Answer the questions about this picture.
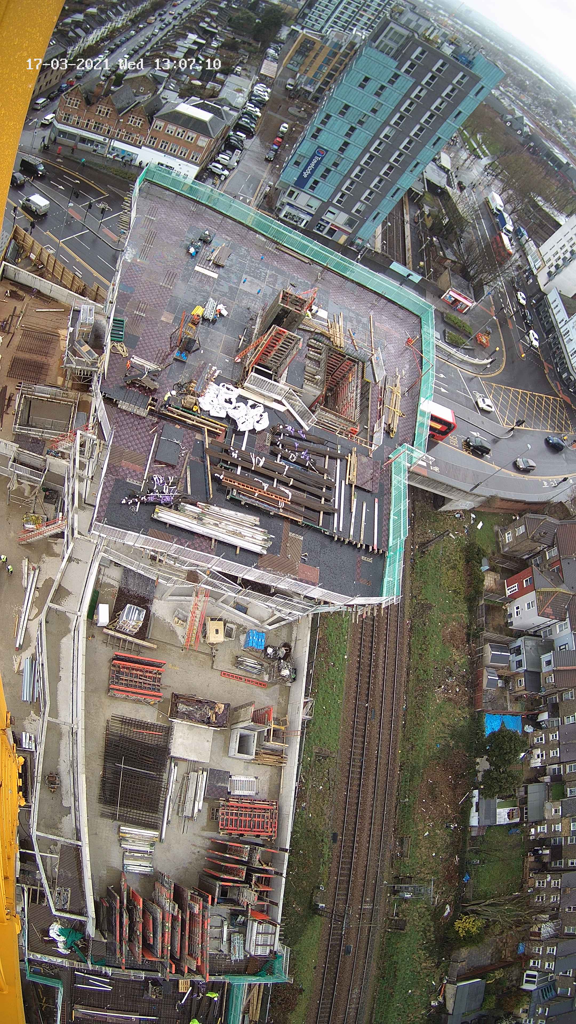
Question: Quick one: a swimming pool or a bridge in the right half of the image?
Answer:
bridge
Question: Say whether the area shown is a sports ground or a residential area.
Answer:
residential area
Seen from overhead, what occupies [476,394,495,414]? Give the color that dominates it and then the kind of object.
white car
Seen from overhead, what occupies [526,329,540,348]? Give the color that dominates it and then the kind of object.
white car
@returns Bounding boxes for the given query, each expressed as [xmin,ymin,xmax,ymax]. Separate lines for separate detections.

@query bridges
[400,469,494,519]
